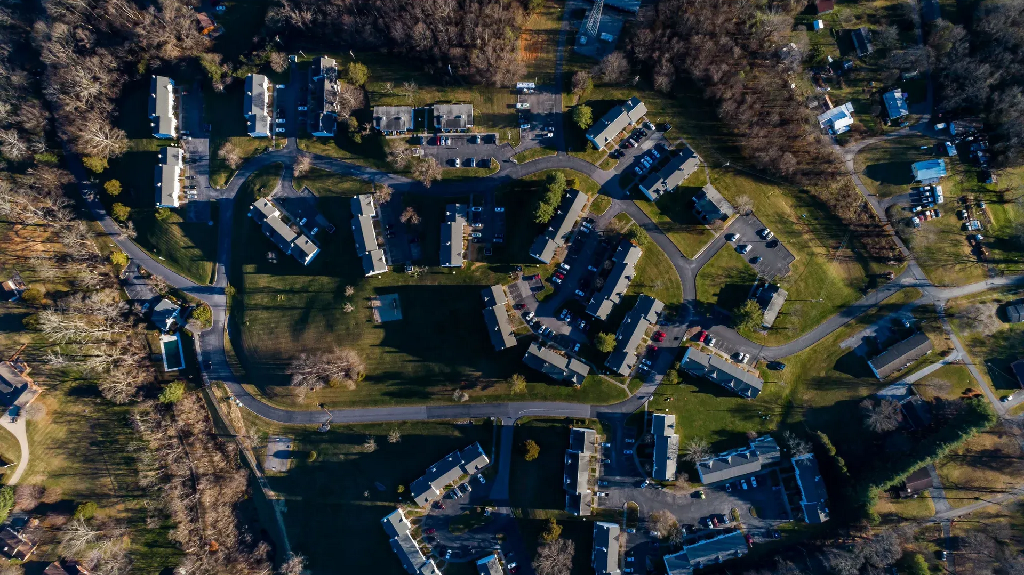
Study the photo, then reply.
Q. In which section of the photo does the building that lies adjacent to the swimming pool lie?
left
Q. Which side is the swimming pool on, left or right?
left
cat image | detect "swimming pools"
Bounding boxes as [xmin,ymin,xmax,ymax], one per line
[160,332,183,372]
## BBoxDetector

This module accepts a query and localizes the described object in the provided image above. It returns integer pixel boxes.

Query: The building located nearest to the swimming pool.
[151,299,182,330]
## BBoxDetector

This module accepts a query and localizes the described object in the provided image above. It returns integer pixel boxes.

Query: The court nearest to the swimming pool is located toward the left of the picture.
[264,436,294,471]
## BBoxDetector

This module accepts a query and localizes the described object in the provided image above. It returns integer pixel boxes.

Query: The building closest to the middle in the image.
[481,283,517,351]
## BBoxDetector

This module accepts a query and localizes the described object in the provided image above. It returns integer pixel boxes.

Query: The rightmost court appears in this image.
[371,294,402,322]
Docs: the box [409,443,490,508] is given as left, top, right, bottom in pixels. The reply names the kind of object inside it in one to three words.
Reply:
building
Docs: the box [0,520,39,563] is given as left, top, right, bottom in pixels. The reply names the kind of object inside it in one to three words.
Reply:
house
